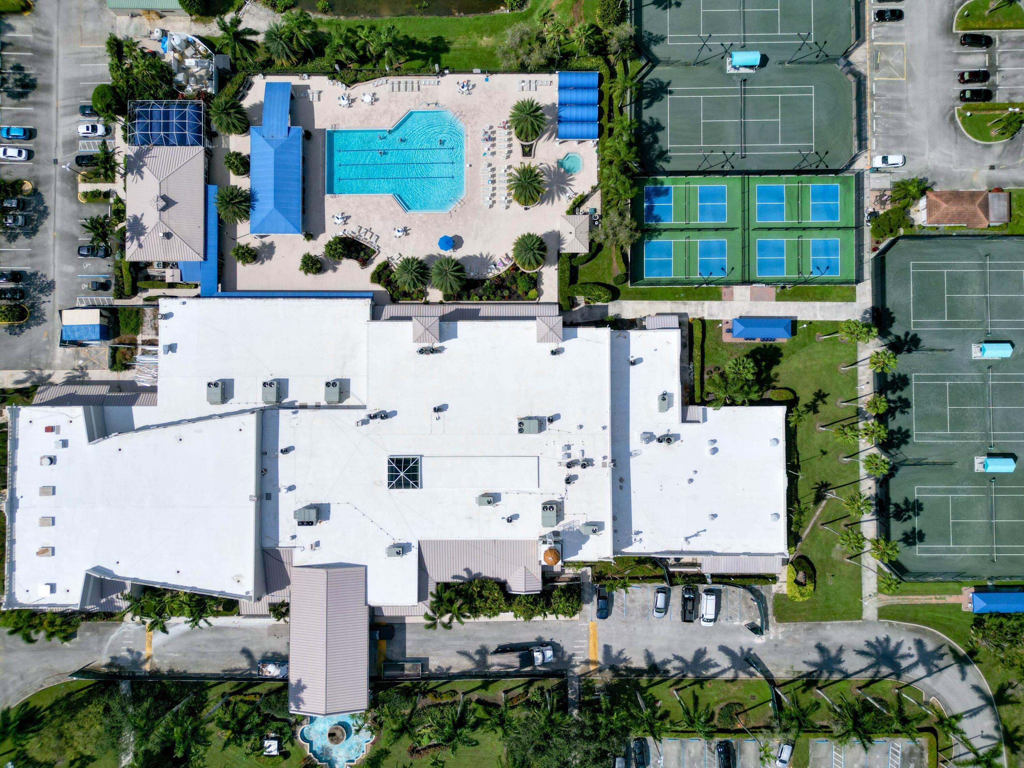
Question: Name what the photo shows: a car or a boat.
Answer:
car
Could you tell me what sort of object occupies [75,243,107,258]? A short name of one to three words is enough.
car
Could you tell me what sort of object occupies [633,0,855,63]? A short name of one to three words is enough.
tennis court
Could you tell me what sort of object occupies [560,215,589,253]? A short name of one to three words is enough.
shed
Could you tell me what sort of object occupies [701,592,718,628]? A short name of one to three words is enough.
vehicle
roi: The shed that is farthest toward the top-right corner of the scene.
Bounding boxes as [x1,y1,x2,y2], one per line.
[913,191,1011,228]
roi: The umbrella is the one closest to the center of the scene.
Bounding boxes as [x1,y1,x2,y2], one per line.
[438,236,453,251]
